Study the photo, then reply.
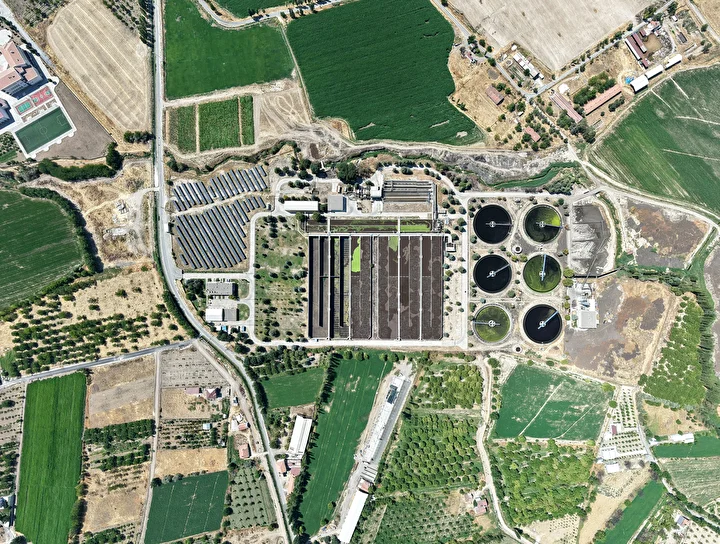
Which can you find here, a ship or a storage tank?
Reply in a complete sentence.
It is a storage tank that can be seen here.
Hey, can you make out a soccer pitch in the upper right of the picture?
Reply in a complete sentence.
No, looking in the upper right of the picture, there is no soccer pitch.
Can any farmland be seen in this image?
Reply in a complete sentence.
Yes, some farmland is visible.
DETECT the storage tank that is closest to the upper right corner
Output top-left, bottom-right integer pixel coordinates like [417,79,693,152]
[522,205,562,244]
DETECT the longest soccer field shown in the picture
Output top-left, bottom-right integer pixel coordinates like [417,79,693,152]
[15,108,72,153]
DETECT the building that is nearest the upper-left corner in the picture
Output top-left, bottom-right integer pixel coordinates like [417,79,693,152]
[0,40,38,97]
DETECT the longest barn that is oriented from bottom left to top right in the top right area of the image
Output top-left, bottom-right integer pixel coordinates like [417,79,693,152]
[584,84,623,115]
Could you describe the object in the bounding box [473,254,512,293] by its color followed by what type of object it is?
black storage tank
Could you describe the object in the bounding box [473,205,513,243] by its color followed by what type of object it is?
black storage tank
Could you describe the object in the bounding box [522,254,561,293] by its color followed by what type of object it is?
green storage tank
